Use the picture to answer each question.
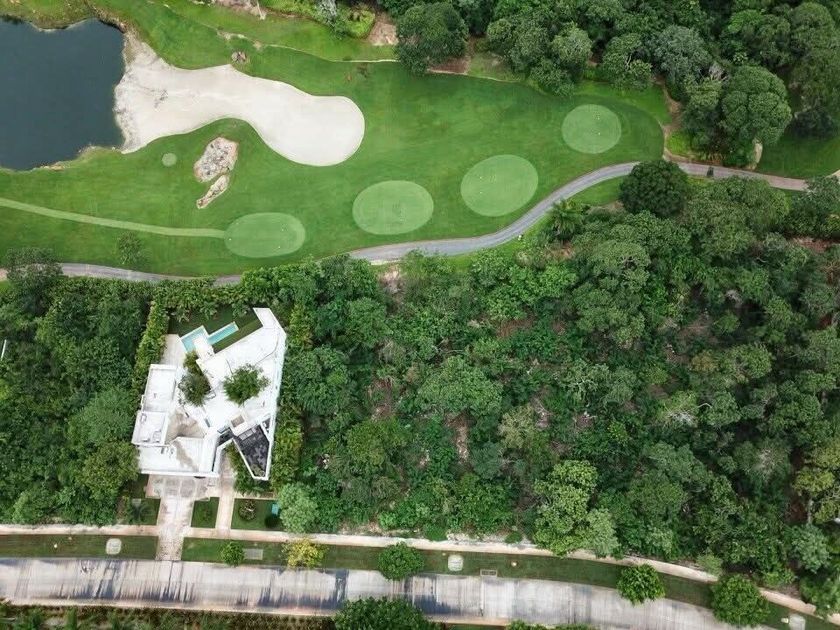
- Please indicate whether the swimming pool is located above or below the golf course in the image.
below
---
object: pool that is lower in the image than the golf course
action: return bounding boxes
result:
[180,322,238,357]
